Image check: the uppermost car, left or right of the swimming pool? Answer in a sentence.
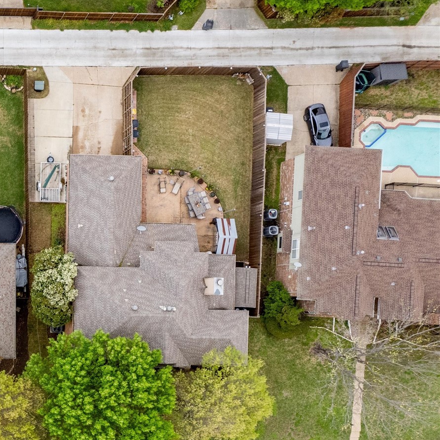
Compared with the swimming pool, the uppermost car is located further to the left.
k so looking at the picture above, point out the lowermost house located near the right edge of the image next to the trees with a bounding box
[268,145,440,328]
